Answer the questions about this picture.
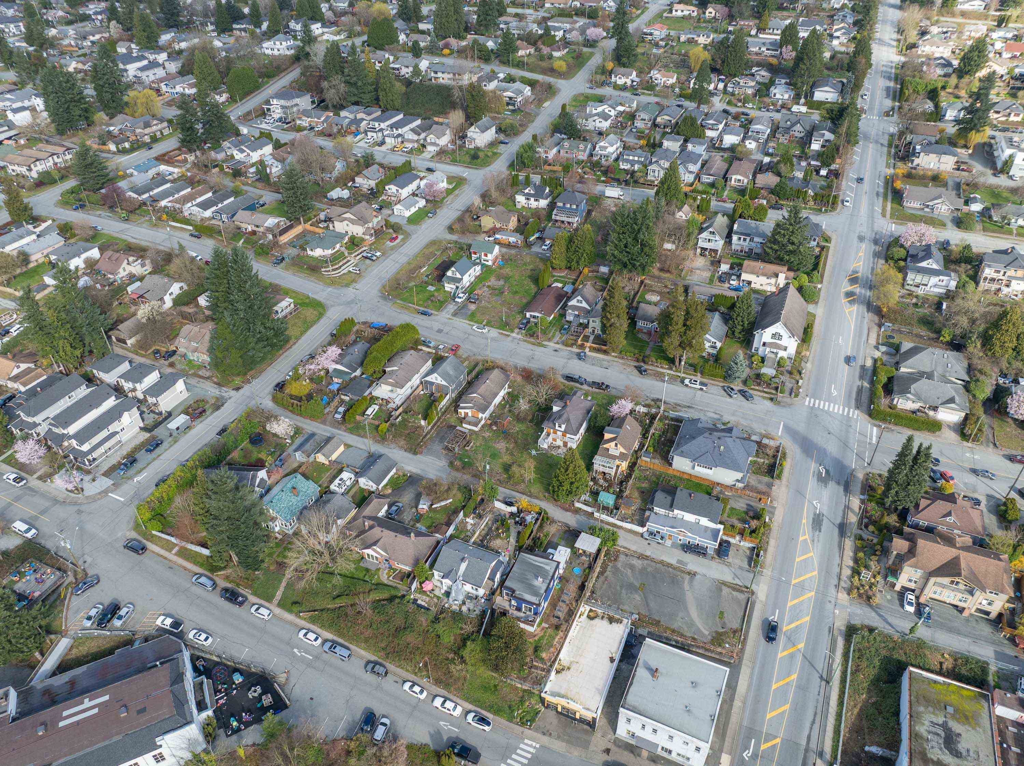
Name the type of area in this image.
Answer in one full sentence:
This image shows a residential area.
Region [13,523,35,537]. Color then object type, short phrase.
white car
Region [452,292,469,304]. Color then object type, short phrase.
white vehicle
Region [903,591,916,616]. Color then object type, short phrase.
white vehicle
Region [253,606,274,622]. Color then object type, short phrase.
white car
